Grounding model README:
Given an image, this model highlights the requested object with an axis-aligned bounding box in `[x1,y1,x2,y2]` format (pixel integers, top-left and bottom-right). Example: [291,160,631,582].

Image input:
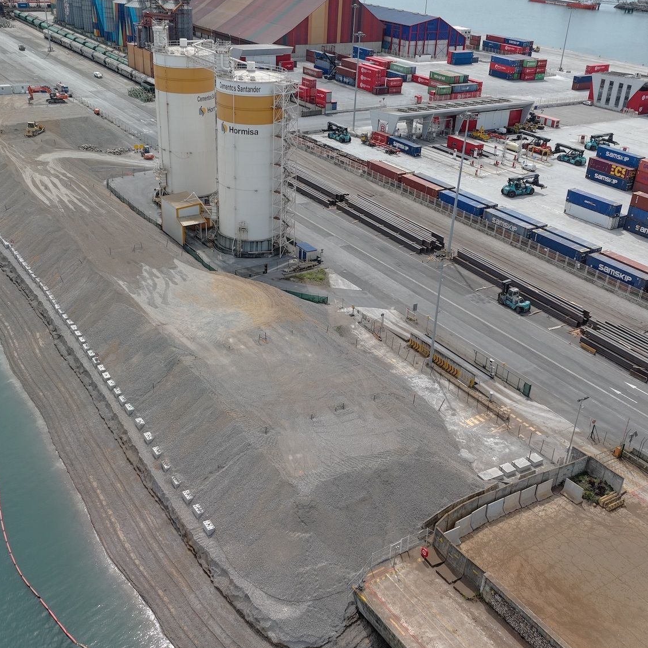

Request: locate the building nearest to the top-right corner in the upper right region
[593,70,648,116]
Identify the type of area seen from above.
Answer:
industrial area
